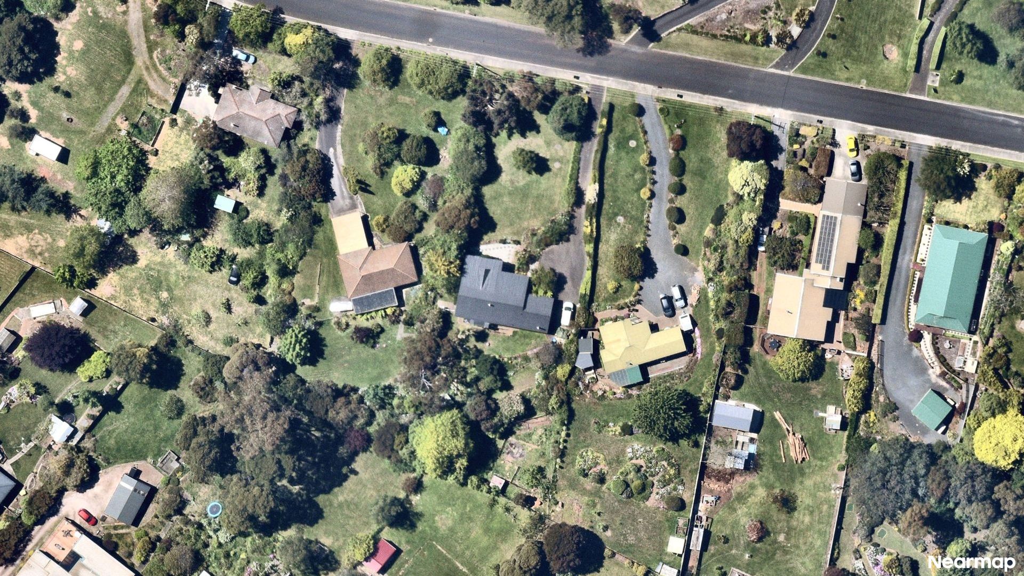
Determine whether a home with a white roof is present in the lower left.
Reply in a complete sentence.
Yes, a home with a white roof is visible in the lower left.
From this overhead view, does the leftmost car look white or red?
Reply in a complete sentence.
The color of the leftmost car is red.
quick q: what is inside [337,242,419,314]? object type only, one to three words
house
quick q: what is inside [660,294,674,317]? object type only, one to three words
car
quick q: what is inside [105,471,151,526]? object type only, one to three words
barn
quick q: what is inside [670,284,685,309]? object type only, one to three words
car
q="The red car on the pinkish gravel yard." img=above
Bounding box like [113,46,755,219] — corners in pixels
[76,508,99,528]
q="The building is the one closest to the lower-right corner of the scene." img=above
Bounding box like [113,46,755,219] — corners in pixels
[913,387,952,430]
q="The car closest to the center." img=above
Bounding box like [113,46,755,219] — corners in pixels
[562,301,574,326]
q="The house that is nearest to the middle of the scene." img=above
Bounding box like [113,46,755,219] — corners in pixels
[456,254,554,333]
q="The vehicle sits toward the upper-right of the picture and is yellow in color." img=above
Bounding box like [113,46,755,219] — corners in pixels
[846,135,858,157]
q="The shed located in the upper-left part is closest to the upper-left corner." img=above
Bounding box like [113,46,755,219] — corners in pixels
[30,133,61,162]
